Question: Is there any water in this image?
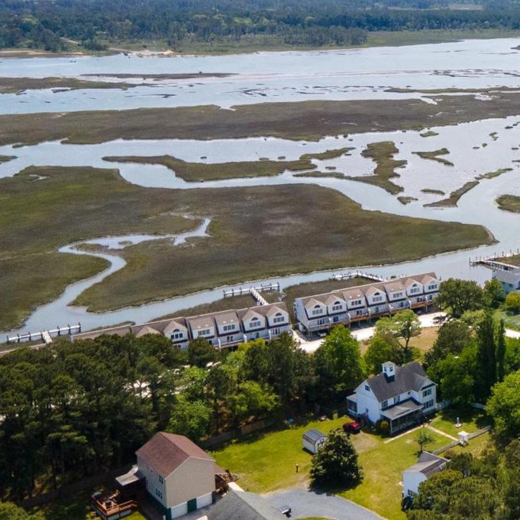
Yes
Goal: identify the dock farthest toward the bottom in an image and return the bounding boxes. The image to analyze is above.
[7,319,82,351]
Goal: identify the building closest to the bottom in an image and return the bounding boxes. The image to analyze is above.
[210,491,280,520]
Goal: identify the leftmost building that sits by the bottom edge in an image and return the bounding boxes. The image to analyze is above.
[143,425,240,520]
